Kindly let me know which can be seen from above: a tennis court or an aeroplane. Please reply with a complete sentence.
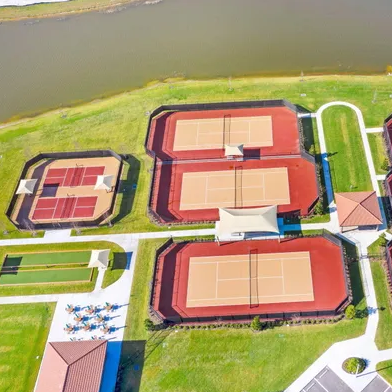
This aerial view contains a tennis court.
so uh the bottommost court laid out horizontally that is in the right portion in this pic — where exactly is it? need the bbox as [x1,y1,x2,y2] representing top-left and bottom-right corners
[154,236,348,326]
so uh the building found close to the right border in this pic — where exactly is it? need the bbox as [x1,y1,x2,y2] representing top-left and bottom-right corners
[334,191,383,233]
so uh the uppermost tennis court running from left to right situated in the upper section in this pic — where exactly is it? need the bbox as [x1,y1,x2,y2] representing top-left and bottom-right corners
[148,106,301,162]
